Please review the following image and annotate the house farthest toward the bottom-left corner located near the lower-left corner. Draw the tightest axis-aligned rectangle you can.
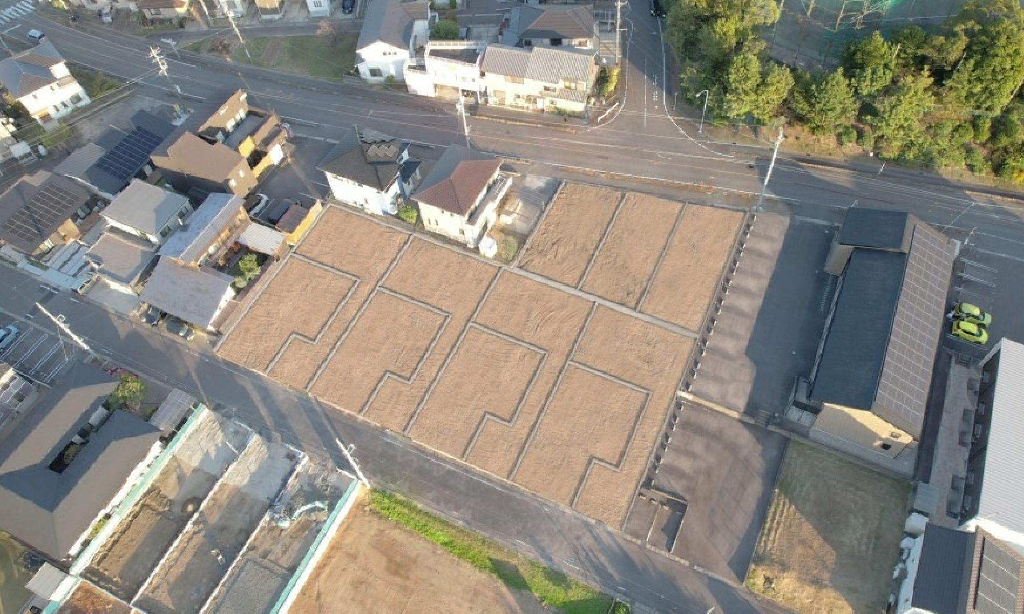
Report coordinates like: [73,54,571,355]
[24,566,66,600]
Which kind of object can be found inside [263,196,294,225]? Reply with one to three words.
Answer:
car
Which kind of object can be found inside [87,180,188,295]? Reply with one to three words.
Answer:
house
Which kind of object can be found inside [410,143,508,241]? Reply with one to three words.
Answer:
house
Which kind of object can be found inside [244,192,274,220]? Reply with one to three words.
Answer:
car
